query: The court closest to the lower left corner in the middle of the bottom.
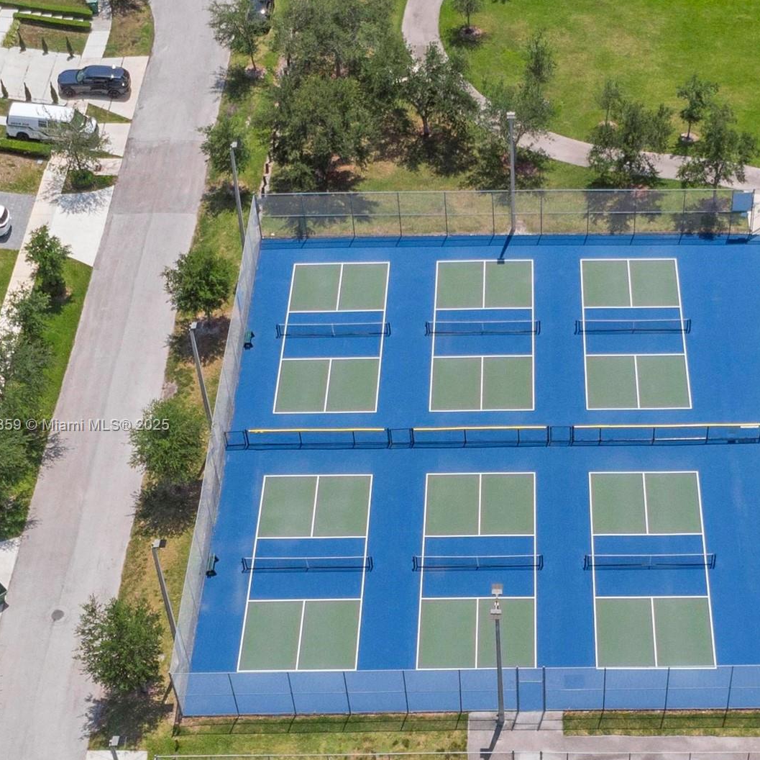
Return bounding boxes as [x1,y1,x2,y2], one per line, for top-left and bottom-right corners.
[236,477,372,673]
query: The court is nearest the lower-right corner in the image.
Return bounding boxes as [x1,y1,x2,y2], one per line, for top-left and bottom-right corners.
[590,474,716,671]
